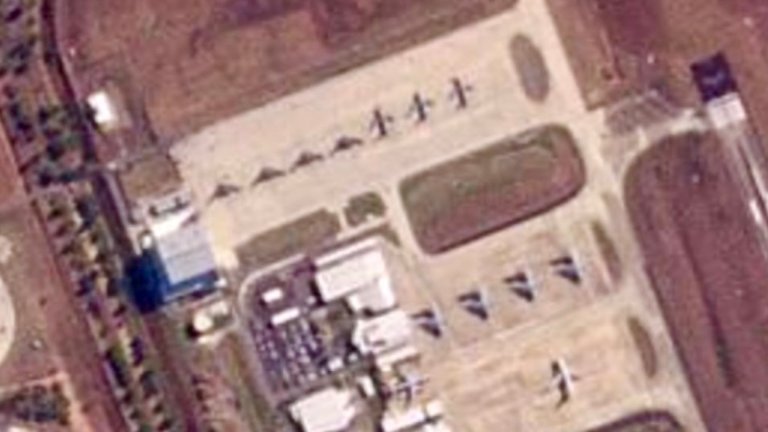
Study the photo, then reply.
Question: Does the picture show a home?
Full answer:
Yes, the photo shows a home.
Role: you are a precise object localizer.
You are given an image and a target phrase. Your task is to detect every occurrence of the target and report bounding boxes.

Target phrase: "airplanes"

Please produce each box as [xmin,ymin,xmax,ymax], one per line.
[504,270,531,298]
[552,252,578,279]
[448,80,470,106]
[254,167,288,188]
[292,150,327,171]
[370,110,392,136]
[458,288,484,316]
[391,371,425,398]
[548,357,587,399]
[211,181,245,202]
[413,305,440,333]
[409,93,430,119]
[332,134,366,156]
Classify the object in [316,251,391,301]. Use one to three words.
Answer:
hangar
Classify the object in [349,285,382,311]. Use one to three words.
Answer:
building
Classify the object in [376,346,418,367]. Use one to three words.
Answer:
shed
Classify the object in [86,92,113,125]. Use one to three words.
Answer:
house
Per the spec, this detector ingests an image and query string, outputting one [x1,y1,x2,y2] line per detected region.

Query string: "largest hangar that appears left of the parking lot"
[156,220,219,307]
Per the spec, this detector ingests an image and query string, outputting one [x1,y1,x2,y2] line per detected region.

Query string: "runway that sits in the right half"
[716,119,768,238]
